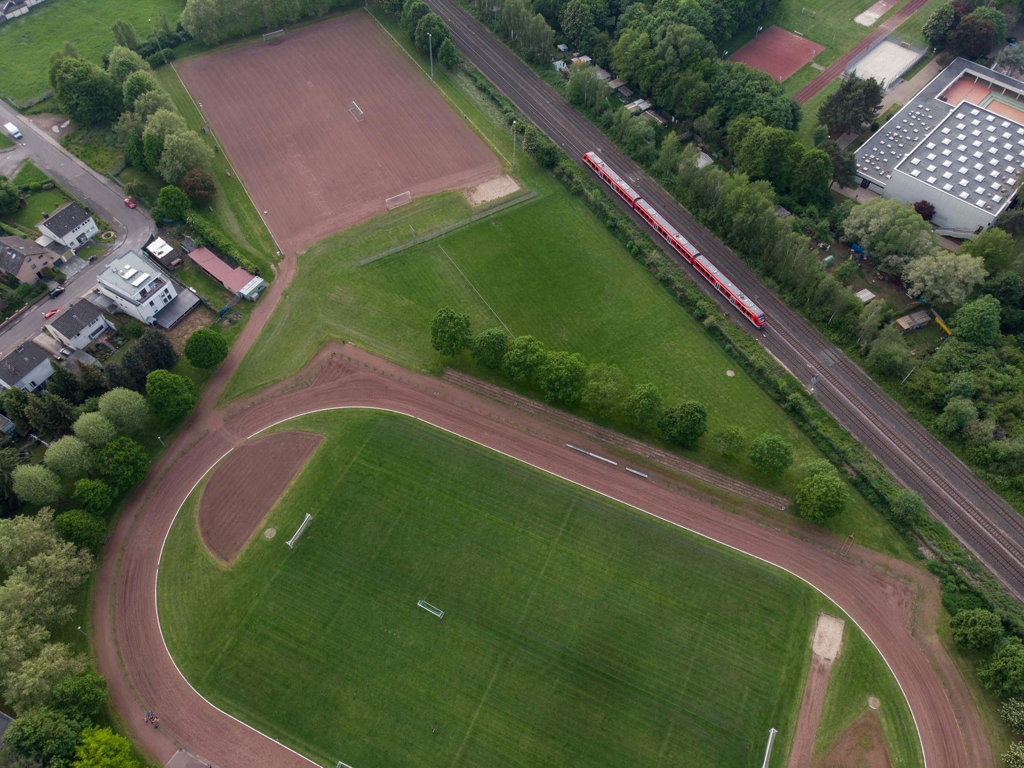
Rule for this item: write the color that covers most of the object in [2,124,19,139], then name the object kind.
white vehicle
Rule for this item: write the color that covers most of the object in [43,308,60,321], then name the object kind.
red vehicle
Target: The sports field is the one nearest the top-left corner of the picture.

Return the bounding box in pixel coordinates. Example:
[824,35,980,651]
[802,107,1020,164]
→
[180,14,504,254]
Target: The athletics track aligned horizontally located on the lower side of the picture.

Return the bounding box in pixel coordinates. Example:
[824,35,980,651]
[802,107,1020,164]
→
[106,358,980,768]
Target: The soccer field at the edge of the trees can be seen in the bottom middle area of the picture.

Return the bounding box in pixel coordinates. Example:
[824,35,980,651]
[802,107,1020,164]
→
[156,407,926,768]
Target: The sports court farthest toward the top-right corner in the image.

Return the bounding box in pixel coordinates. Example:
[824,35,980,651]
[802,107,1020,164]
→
[843,30,931,94]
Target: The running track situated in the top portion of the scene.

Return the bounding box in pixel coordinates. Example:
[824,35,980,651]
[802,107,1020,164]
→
[794,0,930,104]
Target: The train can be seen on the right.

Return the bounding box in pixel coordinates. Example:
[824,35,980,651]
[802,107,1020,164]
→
[585,150,768,331]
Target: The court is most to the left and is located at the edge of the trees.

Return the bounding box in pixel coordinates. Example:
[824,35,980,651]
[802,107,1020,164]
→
[727,26,825,82]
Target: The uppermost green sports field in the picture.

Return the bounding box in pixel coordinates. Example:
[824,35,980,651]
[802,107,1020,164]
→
[333,187,911,557]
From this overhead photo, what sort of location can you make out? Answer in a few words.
sports ground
